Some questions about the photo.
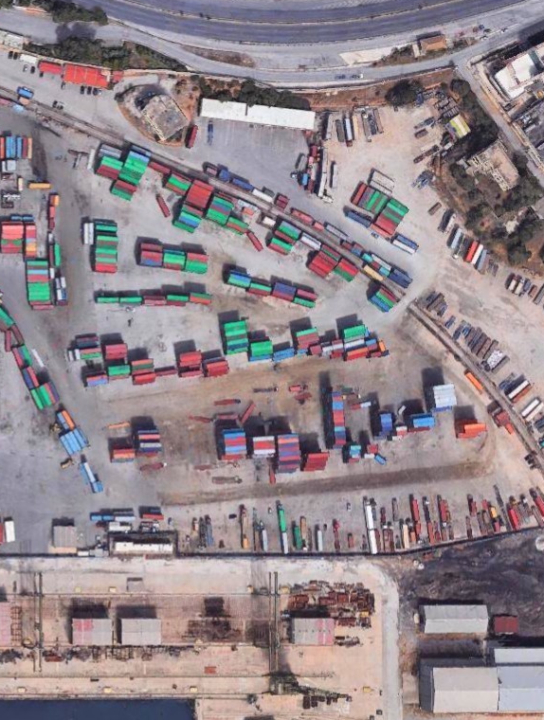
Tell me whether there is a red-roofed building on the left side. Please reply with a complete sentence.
Yes, a red-roofed building appears on the left side.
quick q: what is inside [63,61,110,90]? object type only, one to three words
building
